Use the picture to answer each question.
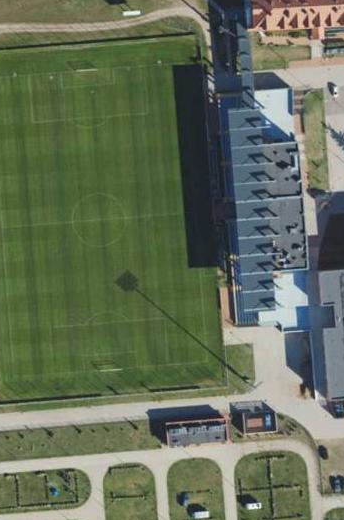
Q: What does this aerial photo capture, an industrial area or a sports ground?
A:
sports ground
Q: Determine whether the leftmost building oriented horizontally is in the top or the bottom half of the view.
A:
bottom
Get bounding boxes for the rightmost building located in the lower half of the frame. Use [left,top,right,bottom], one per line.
[232,403,276,433]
